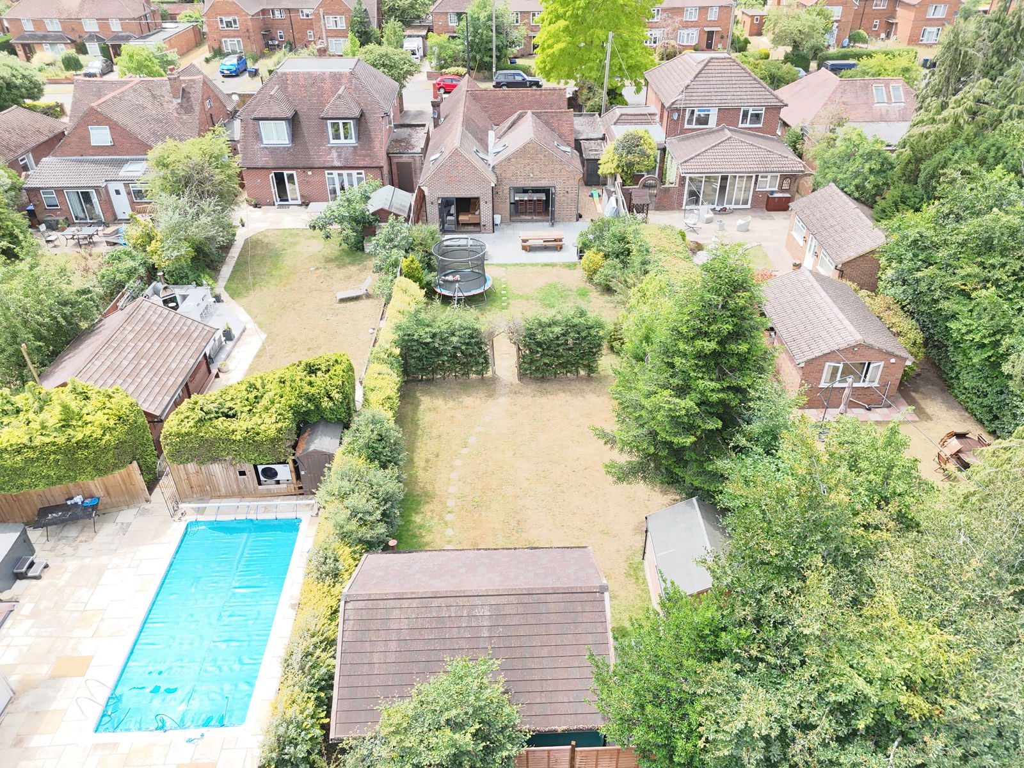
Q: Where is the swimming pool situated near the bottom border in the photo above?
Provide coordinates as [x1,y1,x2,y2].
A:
[75,510,311,740]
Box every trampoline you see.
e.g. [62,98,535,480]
[434,241,493,311]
